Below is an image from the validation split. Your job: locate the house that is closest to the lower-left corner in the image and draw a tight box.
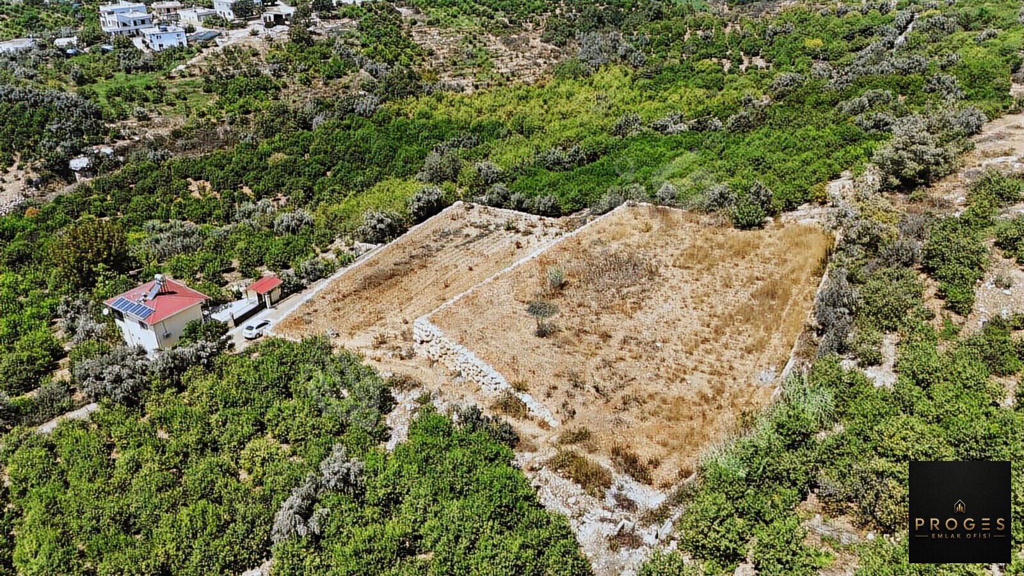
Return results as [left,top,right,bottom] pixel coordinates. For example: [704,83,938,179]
[105,278,207,369]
